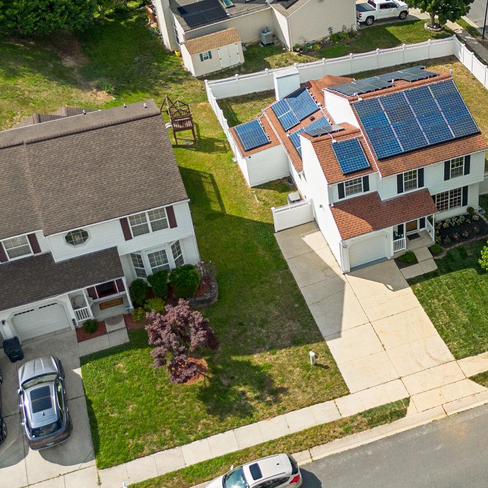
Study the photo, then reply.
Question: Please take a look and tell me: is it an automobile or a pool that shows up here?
automobile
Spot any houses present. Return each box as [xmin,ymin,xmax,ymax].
[0,96,198,348]
[159,0,356,51]
[227,67,488,275]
